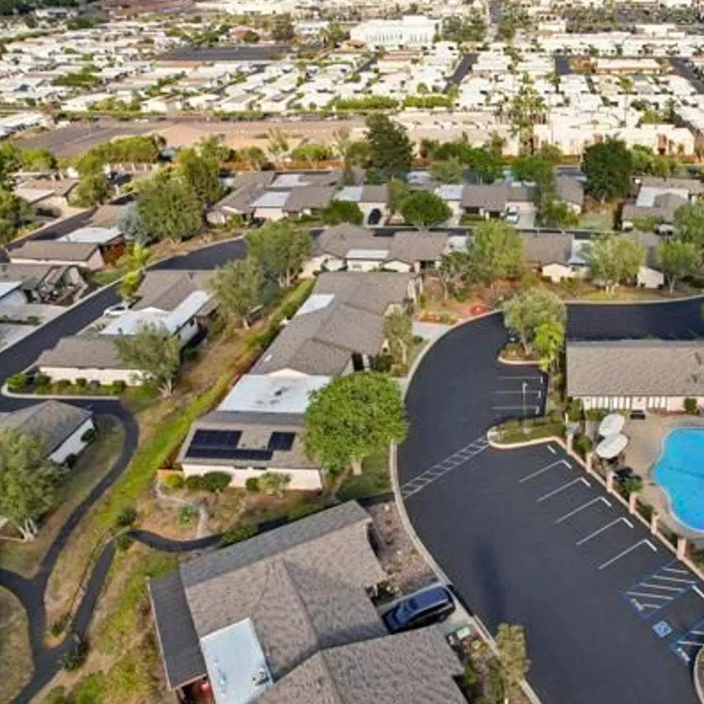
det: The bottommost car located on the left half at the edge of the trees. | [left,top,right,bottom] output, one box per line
[92,300,134,322]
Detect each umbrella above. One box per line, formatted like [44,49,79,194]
[594,435,631,460]
[596,414,628,438]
